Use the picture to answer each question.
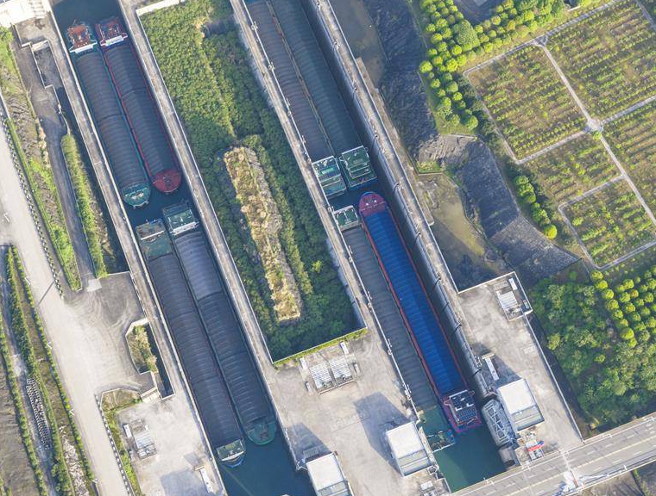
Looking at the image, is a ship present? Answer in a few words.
Yes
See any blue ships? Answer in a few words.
Yes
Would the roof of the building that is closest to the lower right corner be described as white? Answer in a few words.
Yes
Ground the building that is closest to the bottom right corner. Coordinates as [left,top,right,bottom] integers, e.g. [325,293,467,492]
[494,377,544,434]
